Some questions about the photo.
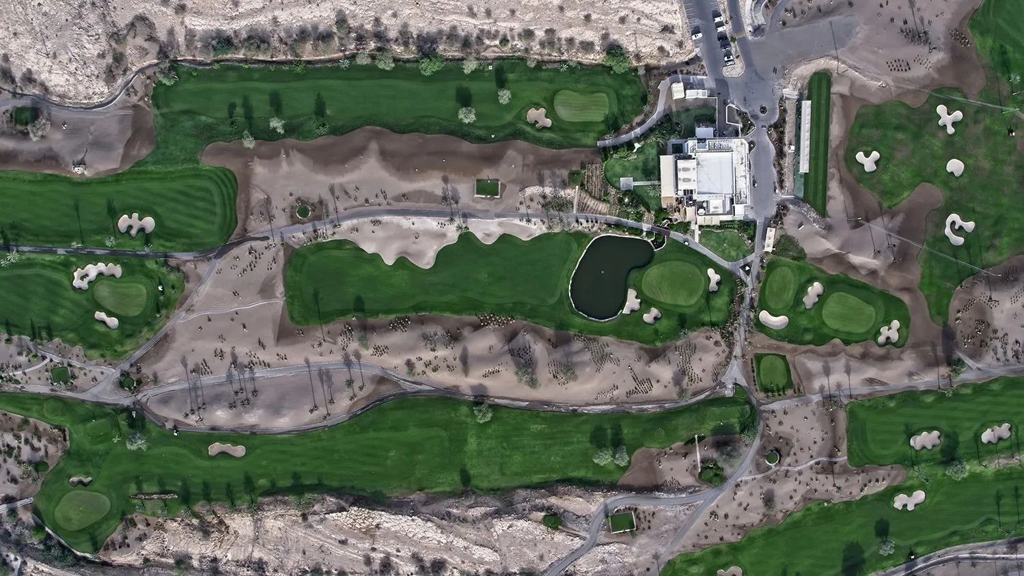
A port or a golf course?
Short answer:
golf course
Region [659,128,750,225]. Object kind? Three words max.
building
